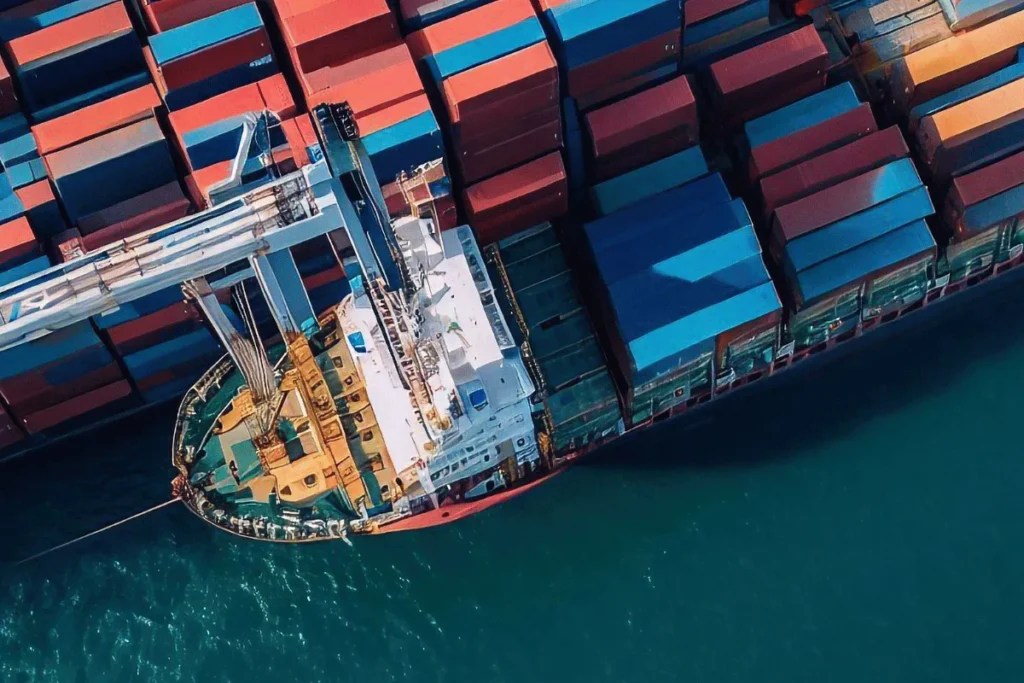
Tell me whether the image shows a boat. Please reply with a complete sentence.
Yes, the picture does show a boat.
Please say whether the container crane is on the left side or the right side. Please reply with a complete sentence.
The container crane is on the left side of the image.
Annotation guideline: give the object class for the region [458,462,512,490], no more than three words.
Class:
boat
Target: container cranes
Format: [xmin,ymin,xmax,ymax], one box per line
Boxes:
[0,95,454,455]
